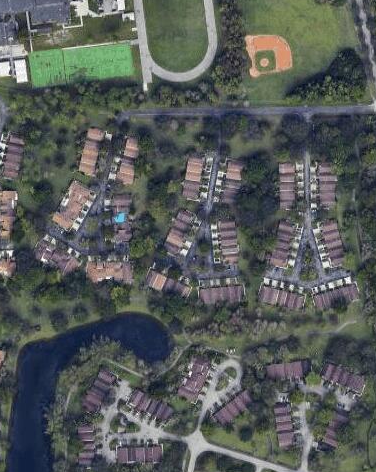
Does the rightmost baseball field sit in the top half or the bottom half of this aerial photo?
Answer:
top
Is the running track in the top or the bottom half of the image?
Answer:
top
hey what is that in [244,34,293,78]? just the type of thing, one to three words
baseball field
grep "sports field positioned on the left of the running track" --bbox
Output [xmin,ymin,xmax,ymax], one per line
[29,44,134,88]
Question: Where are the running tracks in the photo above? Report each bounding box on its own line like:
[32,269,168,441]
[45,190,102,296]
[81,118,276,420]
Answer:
[135,0,217,82]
